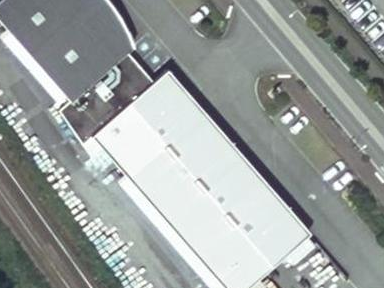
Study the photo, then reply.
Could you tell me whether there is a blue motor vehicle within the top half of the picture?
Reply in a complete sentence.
No, I can find no blue motor vehicle within the top half of the picture.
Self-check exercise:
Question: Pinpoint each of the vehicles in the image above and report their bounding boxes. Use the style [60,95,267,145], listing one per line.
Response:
[342,0,358,8]
[289,115,310,134]
[282,106,304,126]
[373,35,384,51]
[366,20,384,40]
[324,162,344,180]
[350,0,373,20]
[298,278,312,288]
[358,10,381,30]
[332,172,354,191]
[188,6,210,24]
